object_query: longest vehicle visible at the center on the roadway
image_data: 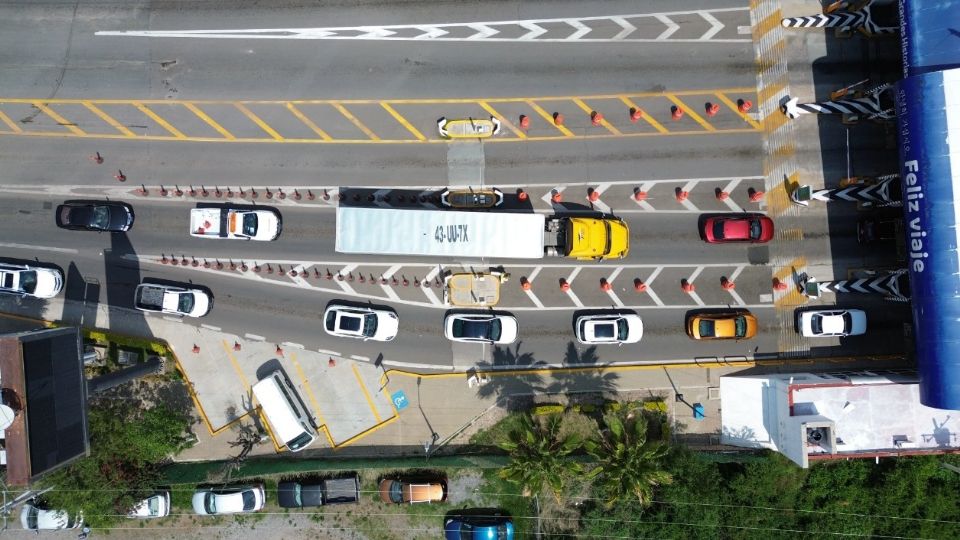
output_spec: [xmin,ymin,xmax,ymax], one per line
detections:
[337,207,628,265]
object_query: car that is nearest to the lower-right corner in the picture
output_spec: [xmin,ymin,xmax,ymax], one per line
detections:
[795,307,863,340]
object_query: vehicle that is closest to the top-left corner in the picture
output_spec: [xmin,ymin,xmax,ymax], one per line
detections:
[57,200,140,236]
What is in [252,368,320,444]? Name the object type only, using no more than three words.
vehicle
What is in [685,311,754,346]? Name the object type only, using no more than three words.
car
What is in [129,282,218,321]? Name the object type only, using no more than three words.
truck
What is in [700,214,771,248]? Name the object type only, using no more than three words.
car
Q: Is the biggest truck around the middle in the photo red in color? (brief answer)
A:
No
